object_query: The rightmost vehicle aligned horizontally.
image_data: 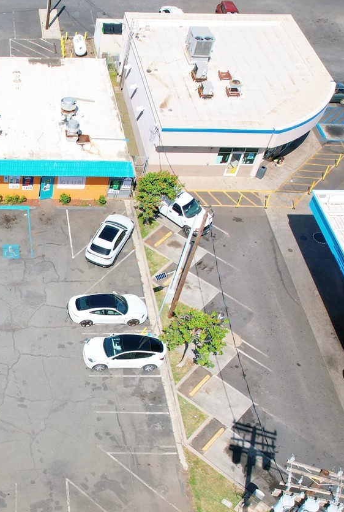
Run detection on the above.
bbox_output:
[211,2,240,15]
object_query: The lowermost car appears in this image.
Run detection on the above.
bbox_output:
[81,331,169,371]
